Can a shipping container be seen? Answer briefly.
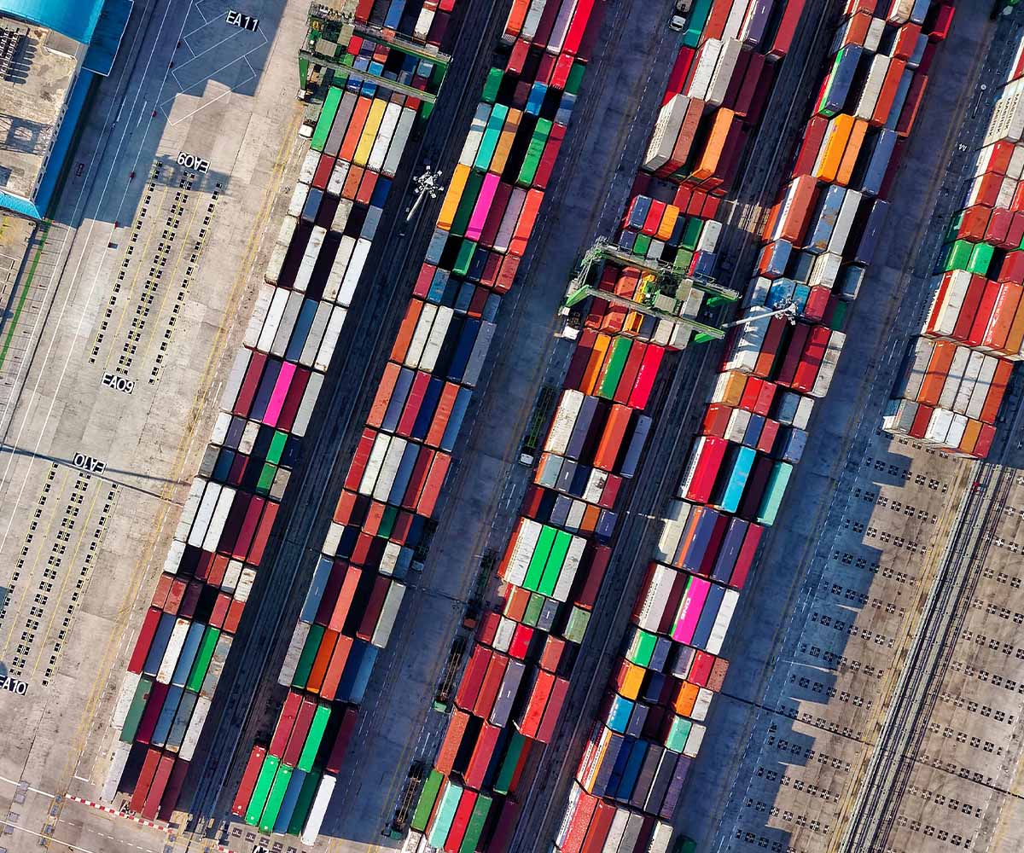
Yes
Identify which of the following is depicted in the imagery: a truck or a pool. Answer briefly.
truck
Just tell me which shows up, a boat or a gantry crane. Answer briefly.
gantry crane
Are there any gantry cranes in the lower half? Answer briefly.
No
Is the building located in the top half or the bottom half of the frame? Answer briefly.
top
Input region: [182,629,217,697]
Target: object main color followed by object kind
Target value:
green shipping container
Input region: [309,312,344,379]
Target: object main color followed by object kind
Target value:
white shipping container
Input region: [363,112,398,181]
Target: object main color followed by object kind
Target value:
white shipping container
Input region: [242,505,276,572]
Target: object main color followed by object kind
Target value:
red shipping container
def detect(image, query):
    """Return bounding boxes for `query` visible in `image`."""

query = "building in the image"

[0,0,135,220]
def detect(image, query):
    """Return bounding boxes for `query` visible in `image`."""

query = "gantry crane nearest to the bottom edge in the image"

[555,236,751,352]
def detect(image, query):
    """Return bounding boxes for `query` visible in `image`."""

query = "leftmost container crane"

[288,1,461,138]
